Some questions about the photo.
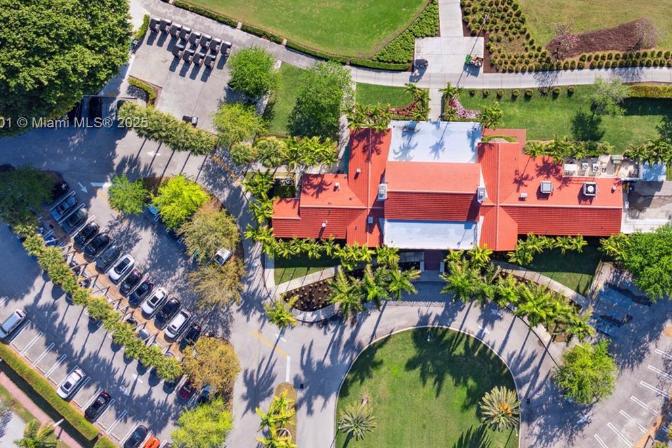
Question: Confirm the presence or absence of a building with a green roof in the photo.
No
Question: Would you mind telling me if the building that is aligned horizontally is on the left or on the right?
right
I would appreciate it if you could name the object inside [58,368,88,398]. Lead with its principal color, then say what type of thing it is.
white car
